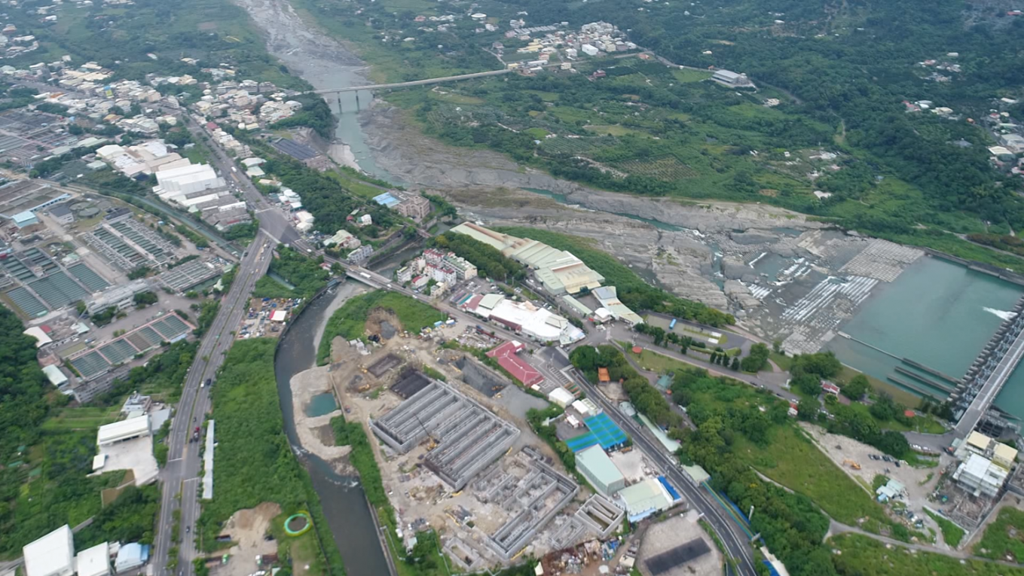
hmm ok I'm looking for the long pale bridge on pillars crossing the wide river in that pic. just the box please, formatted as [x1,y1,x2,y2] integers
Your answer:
[225,67,517,106]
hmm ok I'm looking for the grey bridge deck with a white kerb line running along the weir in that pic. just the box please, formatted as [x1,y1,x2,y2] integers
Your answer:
[957,329,1024,439]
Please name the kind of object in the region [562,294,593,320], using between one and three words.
shed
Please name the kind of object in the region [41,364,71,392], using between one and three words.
shed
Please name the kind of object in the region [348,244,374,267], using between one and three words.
building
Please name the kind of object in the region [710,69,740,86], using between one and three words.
house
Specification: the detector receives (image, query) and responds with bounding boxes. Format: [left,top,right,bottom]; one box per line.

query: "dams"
[950,297,1024,422]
